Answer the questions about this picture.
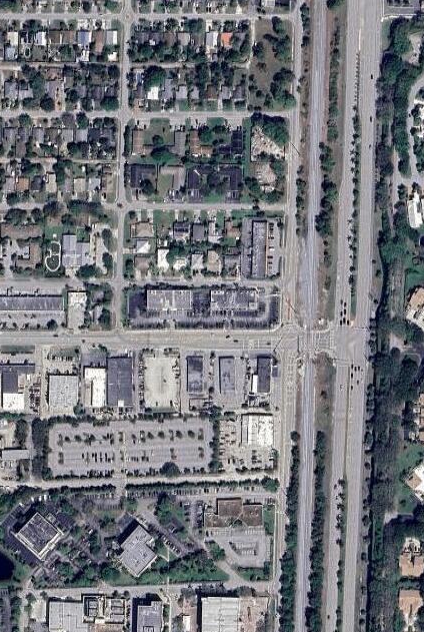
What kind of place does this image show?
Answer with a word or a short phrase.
residential area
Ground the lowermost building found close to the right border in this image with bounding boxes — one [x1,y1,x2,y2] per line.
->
[400,587,423,610]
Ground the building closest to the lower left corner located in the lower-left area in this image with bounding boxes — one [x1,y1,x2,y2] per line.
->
[48,600,87,632]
